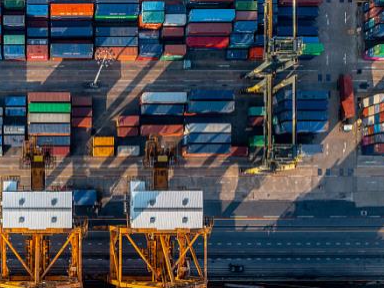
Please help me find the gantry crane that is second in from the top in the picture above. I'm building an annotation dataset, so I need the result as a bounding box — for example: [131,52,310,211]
[236,73,302,176]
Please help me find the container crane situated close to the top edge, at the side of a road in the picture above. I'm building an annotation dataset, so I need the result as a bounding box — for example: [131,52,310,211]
[236,0,302,81]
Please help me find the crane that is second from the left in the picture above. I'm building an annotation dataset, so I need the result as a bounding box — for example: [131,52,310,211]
[92,135,215,288]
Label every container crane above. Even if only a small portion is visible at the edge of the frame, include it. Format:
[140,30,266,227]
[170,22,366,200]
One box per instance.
[236,73,302,176]
[236,0,302,81]
[92,135,215,288]
[0,135,90,288]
